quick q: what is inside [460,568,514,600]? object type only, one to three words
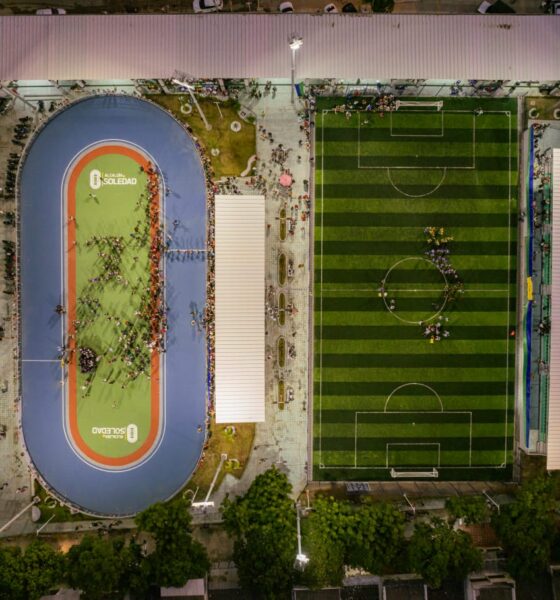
house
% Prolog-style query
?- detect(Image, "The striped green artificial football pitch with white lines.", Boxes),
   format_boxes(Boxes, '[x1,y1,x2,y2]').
[311,96,519,482]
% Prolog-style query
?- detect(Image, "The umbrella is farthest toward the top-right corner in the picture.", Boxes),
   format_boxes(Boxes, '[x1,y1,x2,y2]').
[279,173,293,186]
